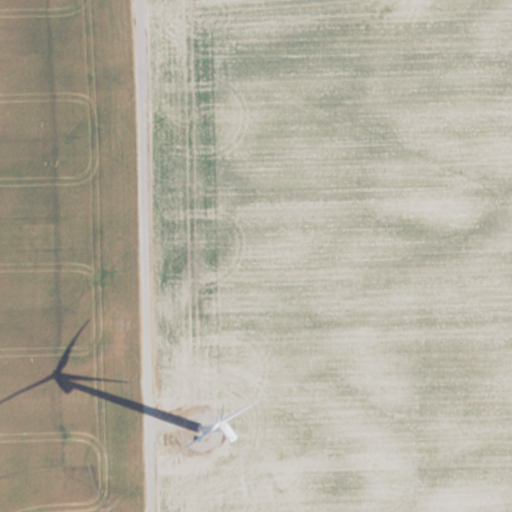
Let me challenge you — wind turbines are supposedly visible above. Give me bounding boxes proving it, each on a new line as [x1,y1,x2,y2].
[131,372,298,484]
